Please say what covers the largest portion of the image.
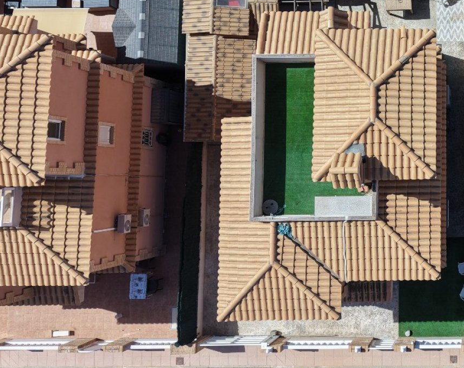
buildings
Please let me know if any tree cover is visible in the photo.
No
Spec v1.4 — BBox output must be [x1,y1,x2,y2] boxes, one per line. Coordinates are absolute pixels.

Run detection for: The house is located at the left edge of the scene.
[0,8,161,310]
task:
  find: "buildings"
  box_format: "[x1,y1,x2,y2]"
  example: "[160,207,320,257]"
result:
[0,8,161,310]
[213,2,453,323]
